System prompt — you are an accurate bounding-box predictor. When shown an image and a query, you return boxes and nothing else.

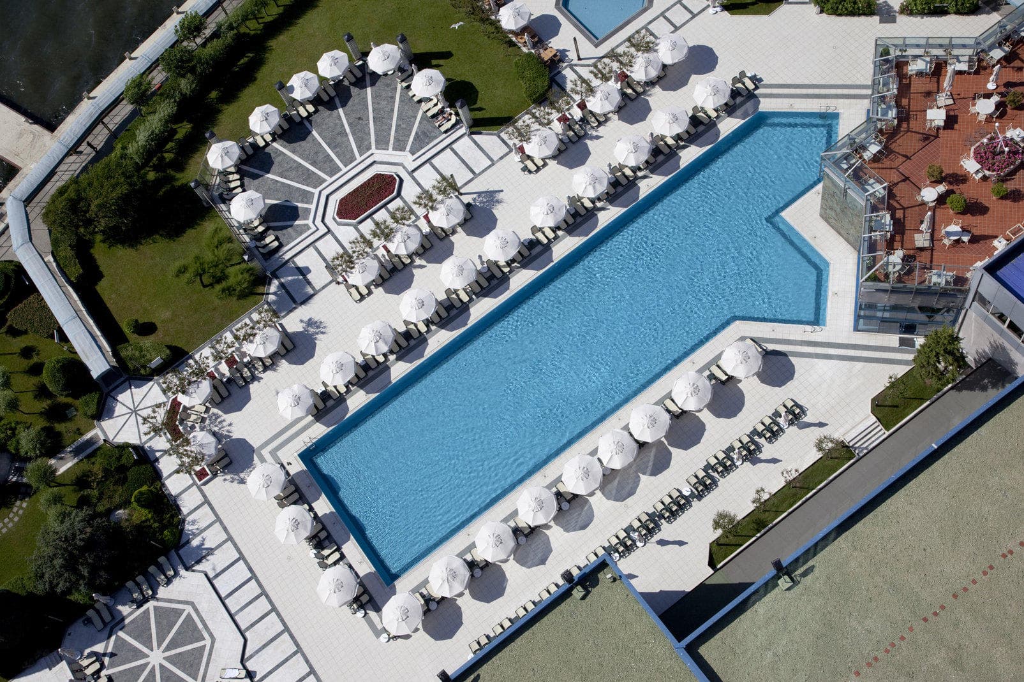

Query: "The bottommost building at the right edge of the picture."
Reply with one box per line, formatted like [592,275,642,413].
[679,368,1024,682]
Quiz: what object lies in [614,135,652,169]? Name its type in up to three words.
umbrella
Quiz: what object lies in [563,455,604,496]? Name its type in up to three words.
umbrella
